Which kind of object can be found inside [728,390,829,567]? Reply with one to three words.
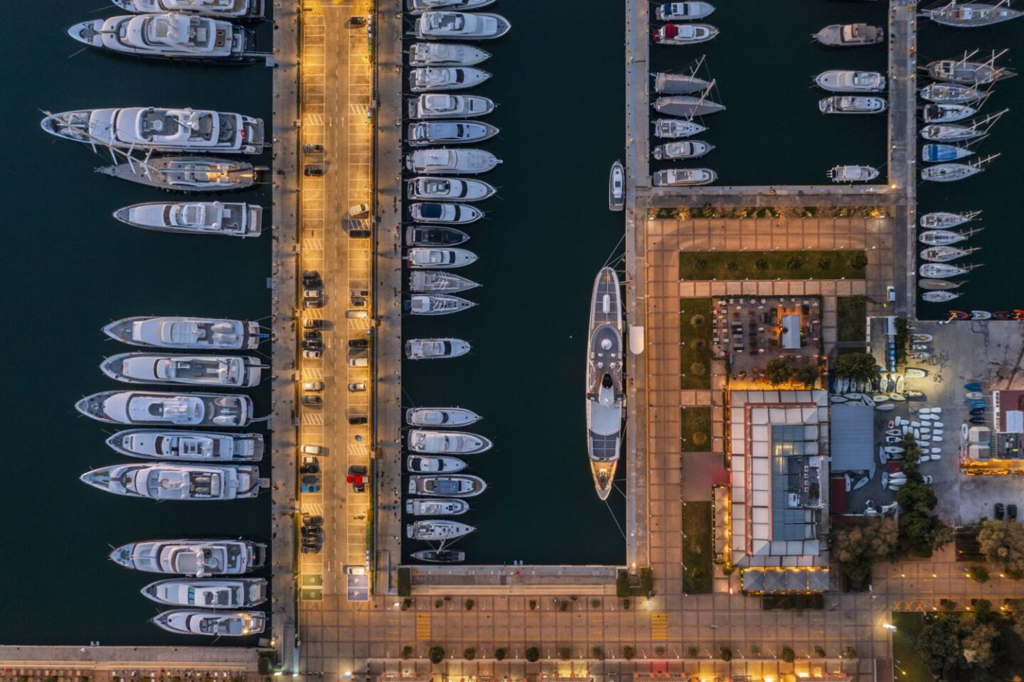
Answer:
building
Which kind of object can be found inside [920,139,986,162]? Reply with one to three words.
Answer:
boat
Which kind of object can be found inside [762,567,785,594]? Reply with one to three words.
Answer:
tent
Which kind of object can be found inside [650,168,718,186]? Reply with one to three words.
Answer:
boat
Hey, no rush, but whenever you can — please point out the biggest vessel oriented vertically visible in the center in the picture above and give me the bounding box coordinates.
[585,234,638,541]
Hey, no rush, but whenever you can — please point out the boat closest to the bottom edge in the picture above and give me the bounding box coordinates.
[151,608,266,644]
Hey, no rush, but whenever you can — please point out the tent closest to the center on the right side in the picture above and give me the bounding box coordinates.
[628,326,643,353]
